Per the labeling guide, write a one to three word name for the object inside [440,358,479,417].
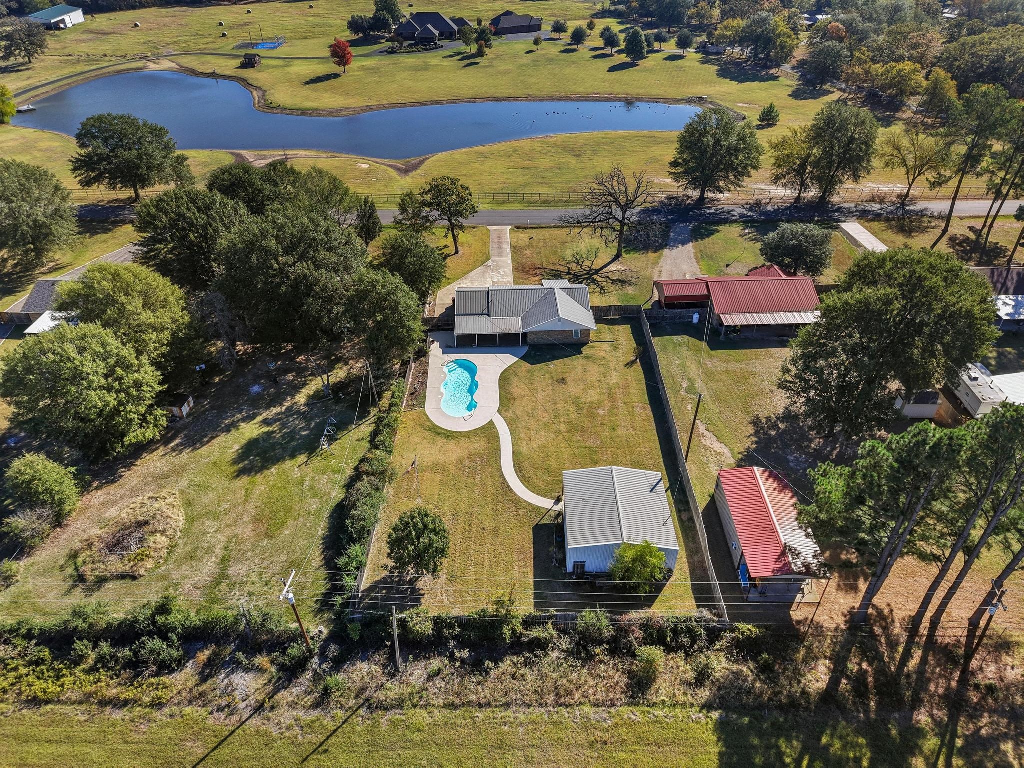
swimming pool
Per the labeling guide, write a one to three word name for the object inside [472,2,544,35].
building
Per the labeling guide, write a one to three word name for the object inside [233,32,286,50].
sports court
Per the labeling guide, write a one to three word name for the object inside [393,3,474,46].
house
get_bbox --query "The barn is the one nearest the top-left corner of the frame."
[14,3,85,33]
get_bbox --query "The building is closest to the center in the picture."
[451,279,598,347]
